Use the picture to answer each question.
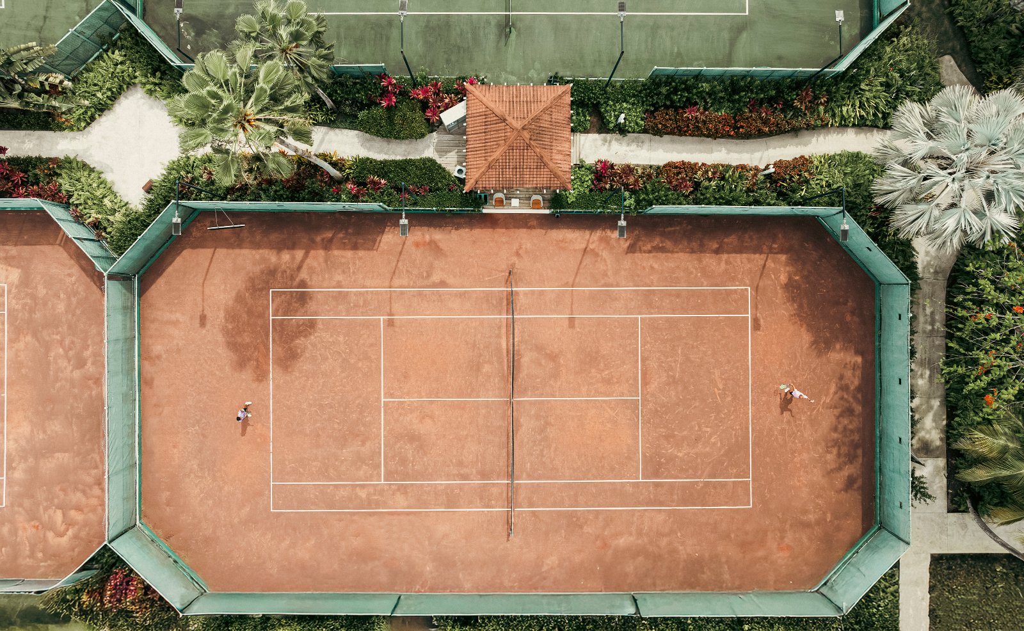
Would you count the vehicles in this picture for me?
0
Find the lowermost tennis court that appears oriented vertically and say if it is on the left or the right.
left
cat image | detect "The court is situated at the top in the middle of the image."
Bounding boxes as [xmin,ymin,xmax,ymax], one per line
[145,0,873,85]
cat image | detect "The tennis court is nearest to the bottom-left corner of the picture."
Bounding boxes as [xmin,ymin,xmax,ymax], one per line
[0,214,121,579]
